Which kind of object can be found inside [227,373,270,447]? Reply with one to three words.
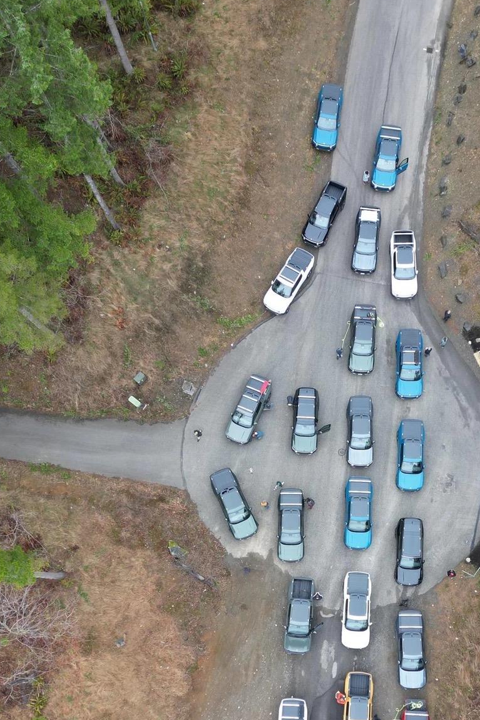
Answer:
truck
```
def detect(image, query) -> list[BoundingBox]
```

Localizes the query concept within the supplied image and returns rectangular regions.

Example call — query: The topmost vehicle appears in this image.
[313,85,342,150]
